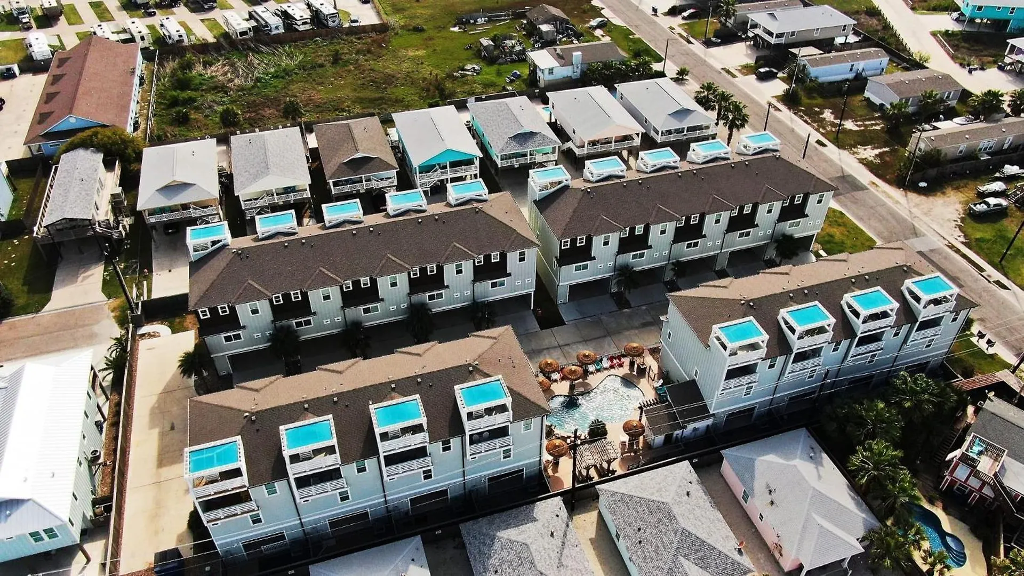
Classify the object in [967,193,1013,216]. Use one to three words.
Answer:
truck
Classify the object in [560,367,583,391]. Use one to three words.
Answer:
umbrella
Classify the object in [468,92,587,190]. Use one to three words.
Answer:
house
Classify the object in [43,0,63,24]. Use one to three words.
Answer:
camper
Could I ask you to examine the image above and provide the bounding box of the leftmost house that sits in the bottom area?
[0,349,105,576]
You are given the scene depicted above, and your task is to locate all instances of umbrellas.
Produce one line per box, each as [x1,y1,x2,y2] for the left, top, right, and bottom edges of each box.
[622,346,645,368]
[538,379,555,397]
[548,441,569,467]
[575,353,598,376]
[560,367,583,391]
[537,361,560,381]
[621,422,645,448]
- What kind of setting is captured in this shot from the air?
residential area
